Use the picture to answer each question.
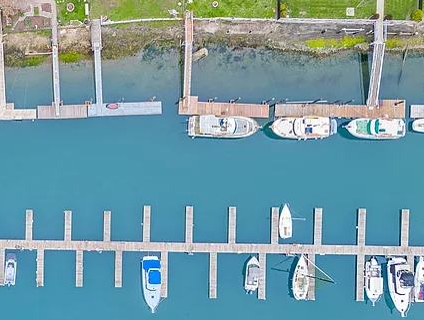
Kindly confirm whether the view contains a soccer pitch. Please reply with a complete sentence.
No, the photo shows no soccer pitch.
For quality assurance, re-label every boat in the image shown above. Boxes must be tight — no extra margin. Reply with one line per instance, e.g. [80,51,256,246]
[279,205,298,237]
[384,254,416,318]
[184,113,262,138]
[268,116,334,140]
[142,251,162,315]
[410,118,424,133]
[292,254,332,300]
[343,113,408,137]
[414,258,424,301]
[4,253,16,286]
[243,258,259,292]
[362,258,385,304]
